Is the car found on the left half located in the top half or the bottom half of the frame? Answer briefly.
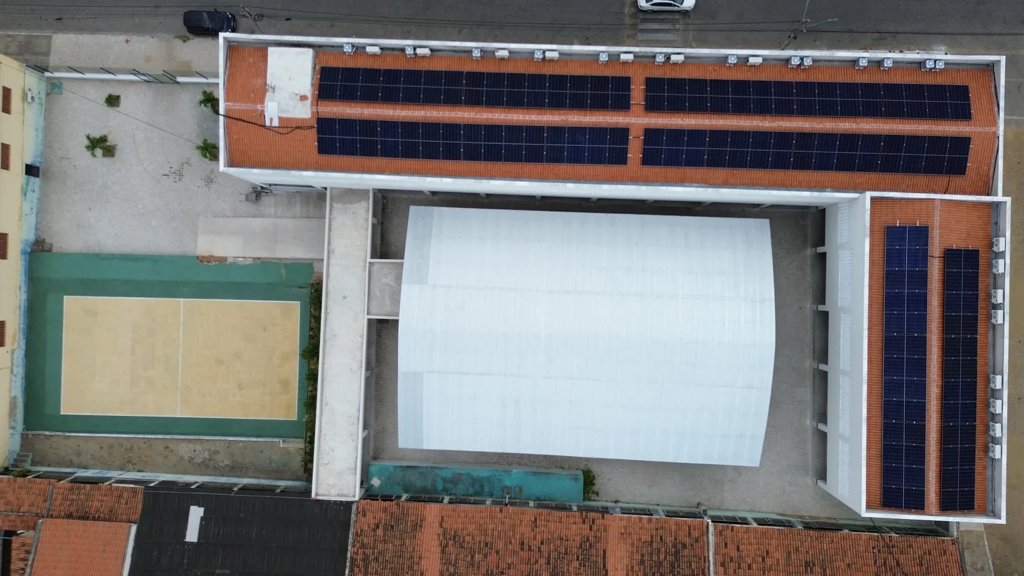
top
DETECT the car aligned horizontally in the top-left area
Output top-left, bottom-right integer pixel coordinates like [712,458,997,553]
[180,10,239,39]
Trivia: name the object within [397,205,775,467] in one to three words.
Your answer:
building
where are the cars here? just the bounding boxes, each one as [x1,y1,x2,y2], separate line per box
[636,0,698,14]
[180,10,239,39]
